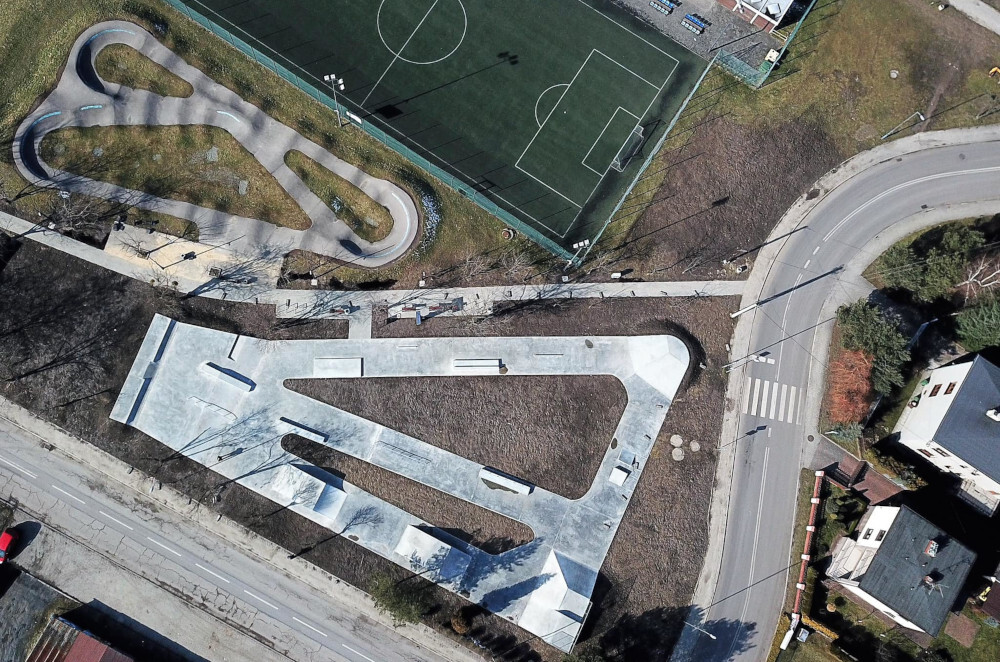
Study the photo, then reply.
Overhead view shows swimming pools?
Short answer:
No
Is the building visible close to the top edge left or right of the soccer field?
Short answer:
on its right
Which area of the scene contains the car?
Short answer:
bottom left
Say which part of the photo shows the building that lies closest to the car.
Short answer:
bottom left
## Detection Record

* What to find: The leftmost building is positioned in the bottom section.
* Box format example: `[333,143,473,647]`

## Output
[26,612,146,662]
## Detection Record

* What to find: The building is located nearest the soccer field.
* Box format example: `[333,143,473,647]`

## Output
[731,0,795,35]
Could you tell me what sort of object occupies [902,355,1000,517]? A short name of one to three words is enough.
house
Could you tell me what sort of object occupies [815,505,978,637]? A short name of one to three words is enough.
house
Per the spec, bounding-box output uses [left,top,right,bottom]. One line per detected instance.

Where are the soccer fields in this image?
[149,0,719,274]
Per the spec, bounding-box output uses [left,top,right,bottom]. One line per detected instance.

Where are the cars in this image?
[0,525,21,570]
